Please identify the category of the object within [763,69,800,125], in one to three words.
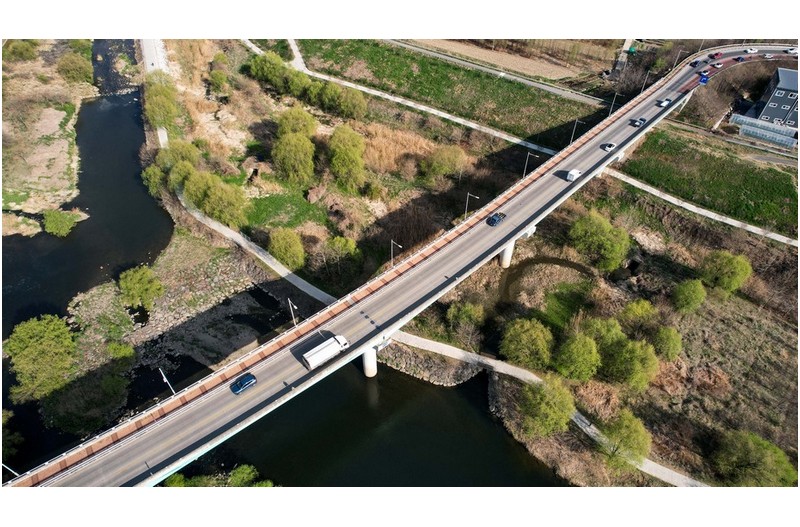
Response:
building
